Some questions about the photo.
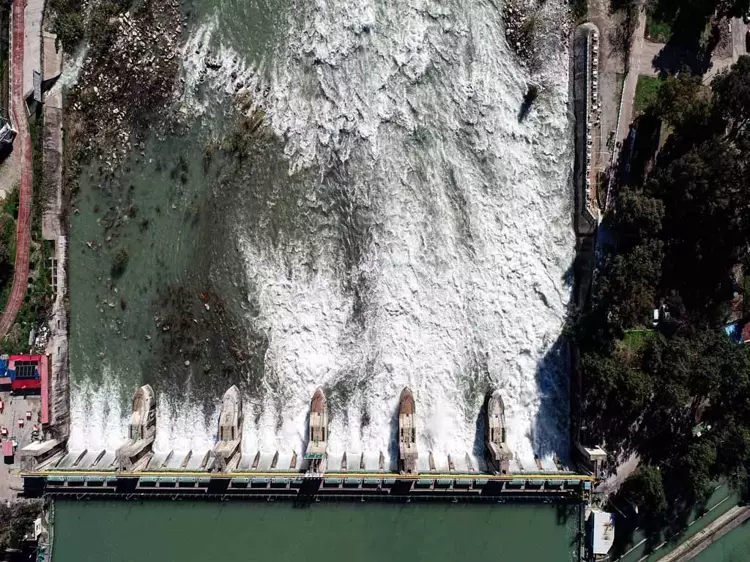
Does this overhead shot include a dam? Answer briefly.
Yes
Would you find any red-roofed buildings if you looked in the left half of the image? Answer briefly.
Yes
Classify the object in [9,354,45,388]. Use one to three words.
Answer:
building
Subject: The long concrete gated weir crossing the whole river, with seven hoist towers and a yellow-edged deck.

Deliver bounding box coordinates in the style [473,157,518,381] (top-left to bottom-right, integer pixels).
[15,385,611,501]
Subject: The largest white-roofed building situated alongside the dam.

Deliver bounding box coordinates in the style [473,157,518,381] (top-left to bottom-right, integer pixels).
[589,507,614,554]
